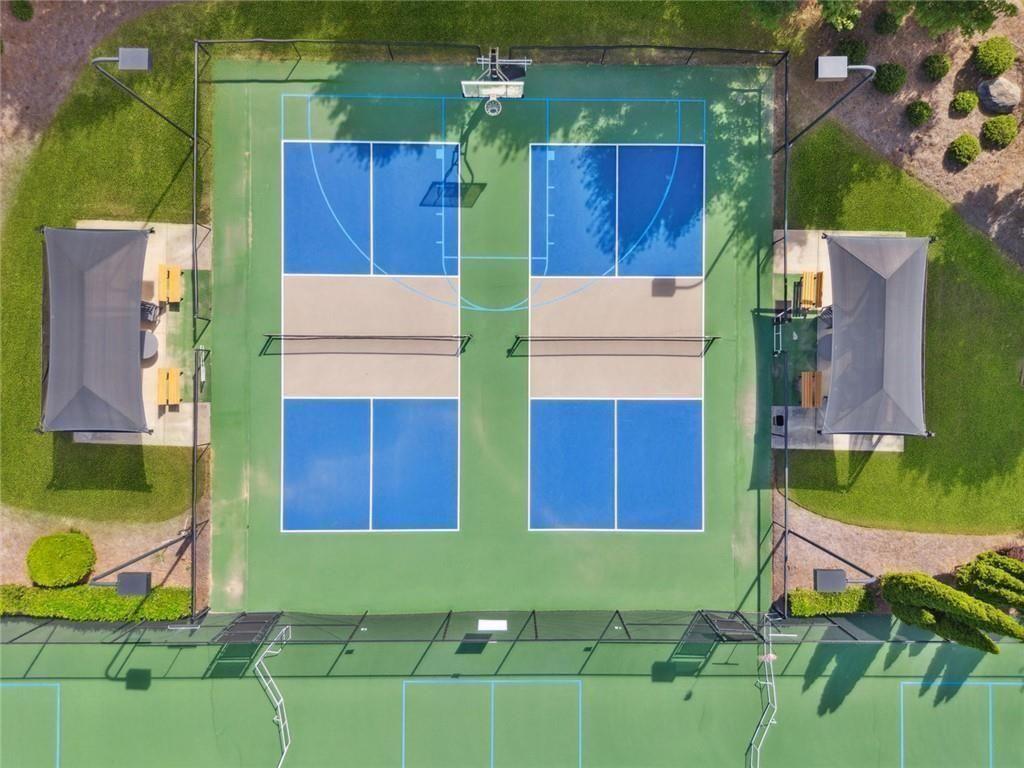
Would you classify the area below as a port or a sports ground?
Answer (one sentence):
It's a sports ground.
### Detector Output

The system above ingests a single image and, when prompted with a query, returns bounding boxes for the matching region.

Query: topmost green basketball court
[211,60,774,612]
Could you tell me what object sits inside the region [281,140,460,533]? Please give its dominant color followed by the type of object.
blue sports court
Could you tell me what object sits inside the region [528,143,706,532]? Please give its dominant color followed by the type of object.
blue sports court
